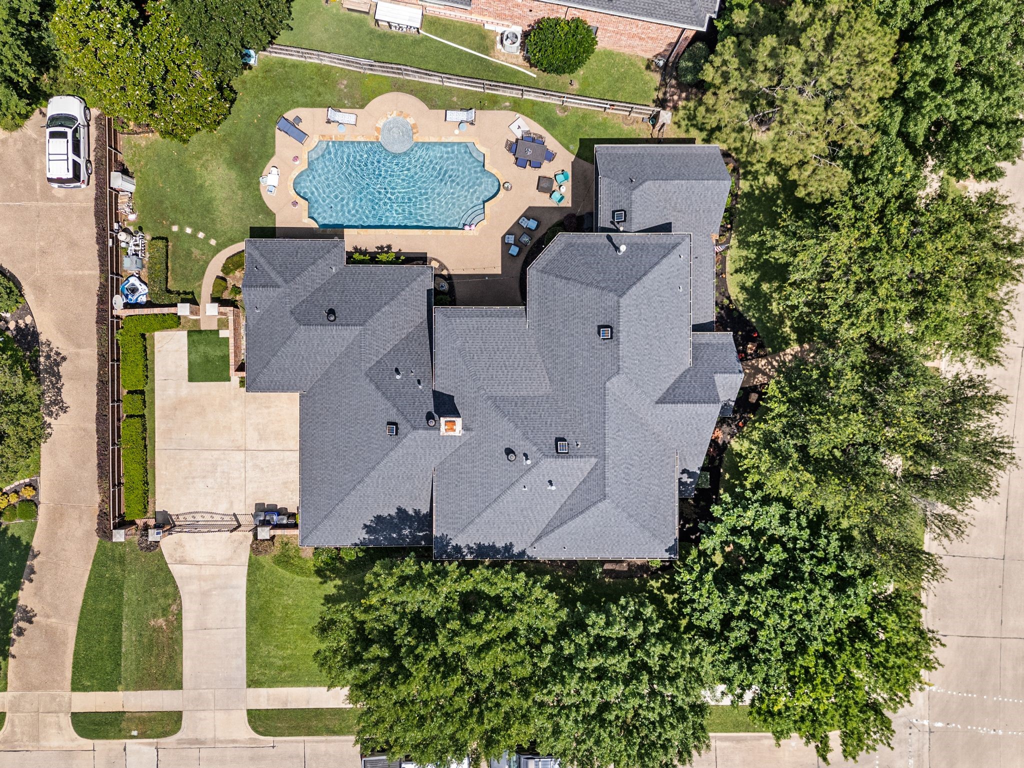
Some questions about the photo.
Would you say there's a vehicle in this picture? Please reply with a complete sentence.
Yes, you can see a vehicle in this photo.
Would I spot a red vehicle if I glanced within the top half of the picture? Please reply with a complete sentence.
No, no red vehicle can be made out within the top half of the picture.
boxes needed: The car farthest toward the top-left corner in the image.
[44,95,95,192]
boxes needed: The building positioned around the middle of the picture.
[241,143,744,561]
